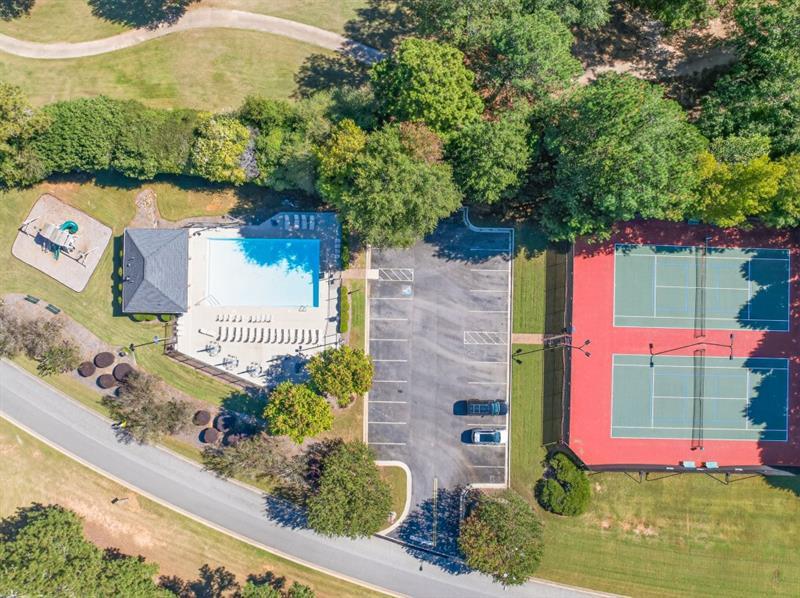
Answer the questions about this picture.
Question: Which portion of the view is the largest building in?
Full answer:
Look in the left portion of the view to spot the largest building.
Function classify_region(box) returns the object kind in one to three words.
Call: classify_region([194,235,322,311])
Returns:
swimming pool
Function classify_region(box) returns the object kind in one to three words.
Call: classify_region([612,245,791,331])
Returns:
tennis court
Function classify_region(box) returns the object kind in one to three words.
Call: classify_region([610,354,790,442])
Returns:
tennis court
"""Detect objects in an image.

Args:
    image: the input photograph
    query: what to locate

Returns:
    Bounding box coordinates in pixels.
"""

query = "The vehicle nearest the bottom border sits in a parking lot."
[470,429,507,446]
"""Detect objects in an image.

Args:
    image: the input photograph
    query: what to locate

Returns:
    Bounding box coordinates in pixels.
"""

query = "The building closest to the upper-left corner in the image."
[123,225,194,313]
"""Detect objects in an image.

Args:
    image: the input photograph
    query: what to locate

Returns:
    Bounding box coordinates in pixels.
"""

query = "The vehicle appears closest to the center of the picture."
[466,399,505,417]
